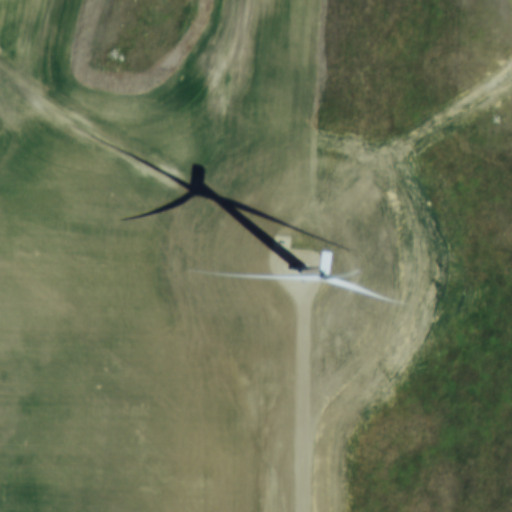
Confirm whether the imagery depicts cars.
No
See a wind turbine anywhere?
Yes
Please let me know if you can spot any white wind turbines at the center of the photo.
Yes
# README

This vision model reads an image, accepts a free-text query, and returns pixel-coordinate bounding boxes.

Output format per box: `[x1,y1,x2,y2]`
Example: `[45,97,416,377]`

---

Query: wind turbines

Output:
[199,250,408,304]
